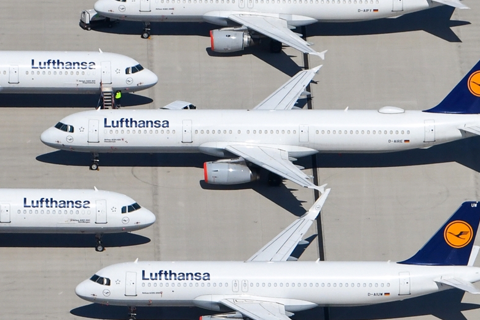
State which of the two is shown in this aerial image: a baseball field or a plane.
plane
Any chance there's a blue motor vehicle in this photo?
No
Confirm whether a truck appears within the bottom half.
No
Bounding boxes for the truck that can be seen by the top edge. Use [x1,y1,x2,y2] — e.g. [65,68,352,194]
[80,4,127,29]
